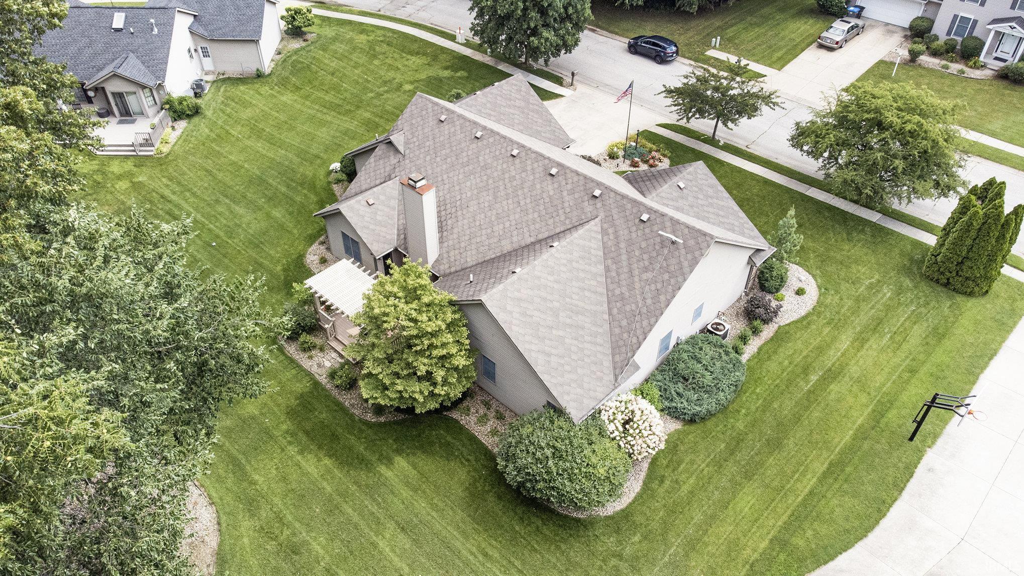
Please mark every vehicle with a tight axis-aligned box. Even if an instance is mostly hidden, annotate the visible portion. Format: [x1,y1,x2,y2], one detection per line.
[817,18,865,47]
[626,32,682,65]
